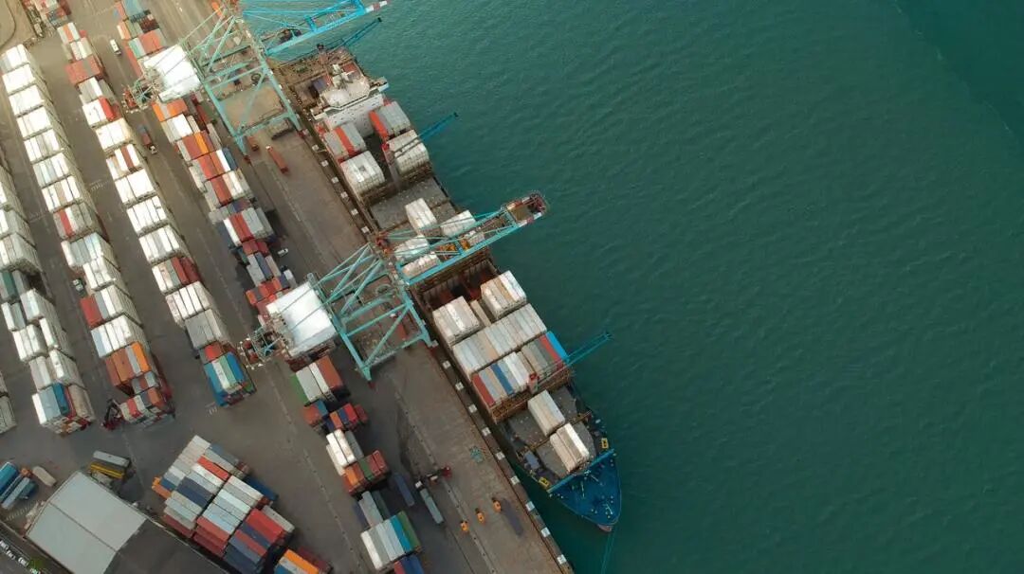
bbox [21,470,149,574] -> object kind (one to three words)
building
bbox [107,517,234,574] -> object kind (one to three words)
shed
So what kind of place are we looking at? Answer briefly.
port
